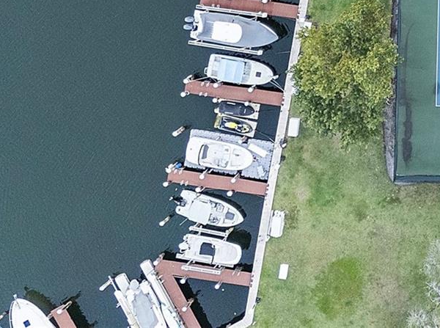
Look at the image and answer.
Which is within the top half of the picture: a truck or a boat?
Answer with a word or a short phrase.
boat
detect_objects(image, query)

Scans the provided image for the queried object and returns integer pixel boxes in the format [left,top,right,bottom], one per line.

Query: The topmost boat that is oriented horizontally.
[182,9,278,46]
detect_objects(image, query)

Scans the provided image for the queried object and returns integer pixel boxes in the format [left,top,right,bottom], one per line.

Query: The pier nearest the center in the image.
[167,171,268,195]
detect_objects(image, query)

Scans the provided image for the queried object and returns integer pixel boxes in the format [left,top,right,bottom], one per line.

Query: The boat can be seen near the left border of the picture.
[10,296,66,328]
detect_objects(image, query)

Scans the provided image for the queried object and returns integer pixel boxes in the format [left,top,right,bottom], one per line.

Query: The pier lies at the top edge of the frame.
[201,0,298,18]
